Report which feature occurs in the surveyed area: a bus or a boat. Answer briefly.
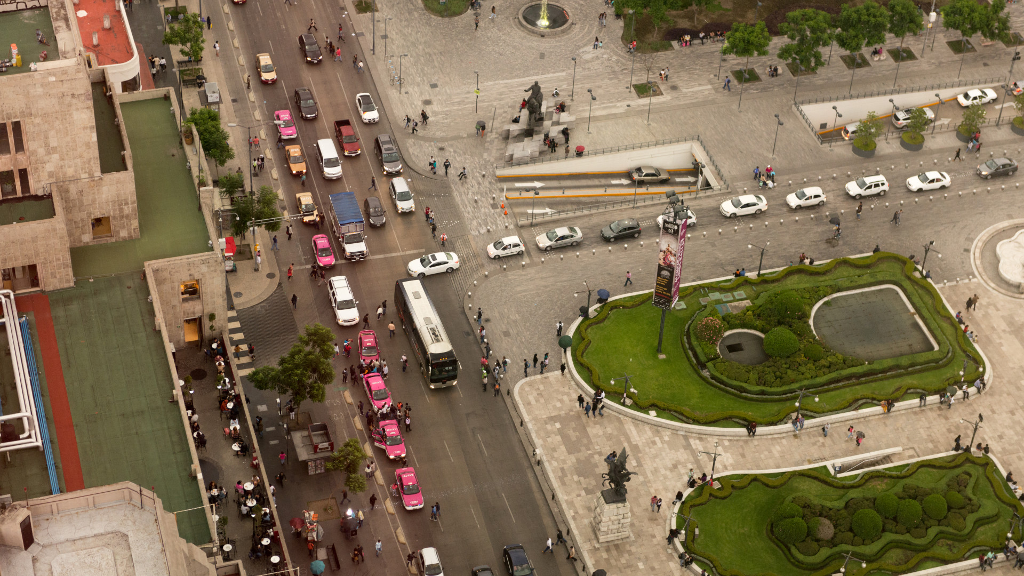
bus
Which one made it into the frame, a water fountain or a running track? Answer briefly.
water fountain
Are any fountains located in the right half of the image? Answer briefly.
Yes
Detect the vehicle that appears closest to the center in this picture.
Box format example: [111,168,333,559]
[484,234,529,260]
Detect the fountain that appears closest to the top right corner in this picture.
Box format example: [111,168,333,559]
[972,224,1024,296]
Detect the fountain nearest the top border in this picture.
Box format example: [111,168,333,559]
[516,0,578,38]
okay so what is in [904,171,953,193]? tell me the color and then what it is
white car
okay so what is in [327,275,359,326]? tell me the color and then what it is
white car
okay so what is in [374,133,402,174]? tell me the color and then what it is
gray vehicle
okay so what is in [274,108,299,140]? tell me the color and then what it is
pink car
